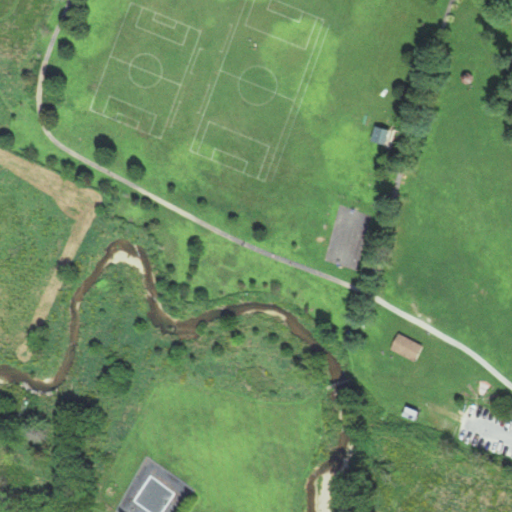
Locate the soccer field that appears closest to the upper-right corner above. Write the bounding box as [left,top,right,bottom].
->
[190,0,329,182]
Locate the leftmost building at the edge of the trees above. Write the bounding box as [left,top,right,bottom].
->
[372,126,398,146]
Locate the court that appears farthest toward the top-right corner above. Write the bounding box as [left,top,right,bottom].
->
[326,206,367,270]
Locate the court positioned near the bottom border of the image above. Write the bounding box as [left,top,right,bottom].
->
[116,456,196,512]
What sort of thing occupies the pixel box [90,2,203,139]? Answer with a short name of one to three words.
soccer field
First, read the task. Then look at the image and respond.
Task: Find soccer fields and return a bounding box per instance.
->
[90,2,203,139]
[190,0,329,182]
